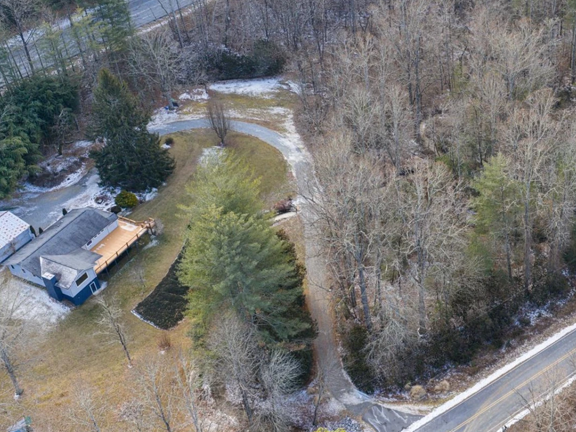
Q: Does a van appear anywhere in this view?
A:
No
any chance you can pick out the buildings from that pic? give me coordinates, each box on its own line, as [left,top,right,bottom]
[3,207,161,306]
[0,211,32,260]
